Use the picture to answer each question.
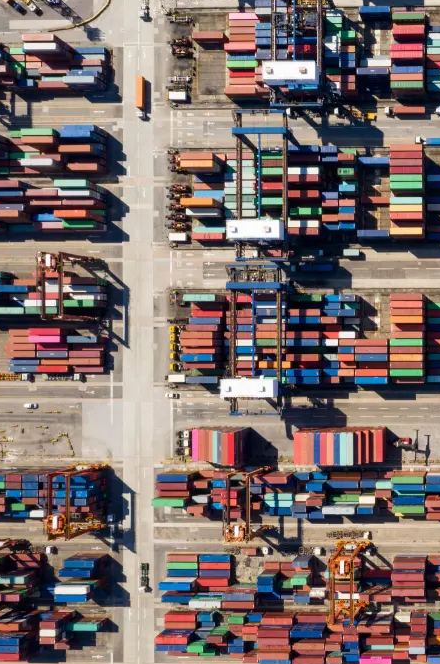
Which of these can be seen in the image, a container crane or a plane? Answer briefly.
container crane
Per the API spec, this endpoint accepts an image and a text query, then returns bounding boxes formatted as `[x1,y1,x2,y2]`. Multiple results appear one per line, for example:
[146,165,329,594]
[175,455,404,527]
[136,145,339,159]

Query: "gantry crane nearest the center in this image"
[221,264,304,417]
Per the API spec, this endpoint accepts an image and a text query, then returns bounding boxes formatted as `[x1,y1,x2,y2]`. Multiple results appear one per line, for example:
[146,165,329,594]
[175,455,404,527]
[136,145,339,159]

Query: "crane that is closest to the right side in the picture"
[328,539,370,627]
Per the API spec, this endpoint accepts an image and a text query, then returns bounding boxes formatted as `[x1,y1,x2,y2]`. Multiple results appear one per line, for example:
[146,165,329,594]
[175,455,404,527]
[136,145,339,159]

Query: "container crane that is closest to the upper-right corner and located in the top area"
[263,0,341,110]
